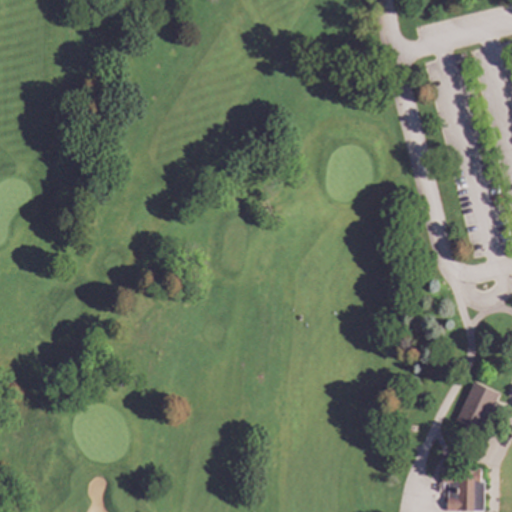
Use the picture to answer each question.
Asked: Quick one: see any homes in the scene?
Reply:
Yes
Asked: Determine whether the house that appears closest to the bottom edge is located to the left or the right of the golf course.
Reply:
right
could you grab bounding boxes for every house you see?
[458,380,498,428]
[442,468,484,511]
